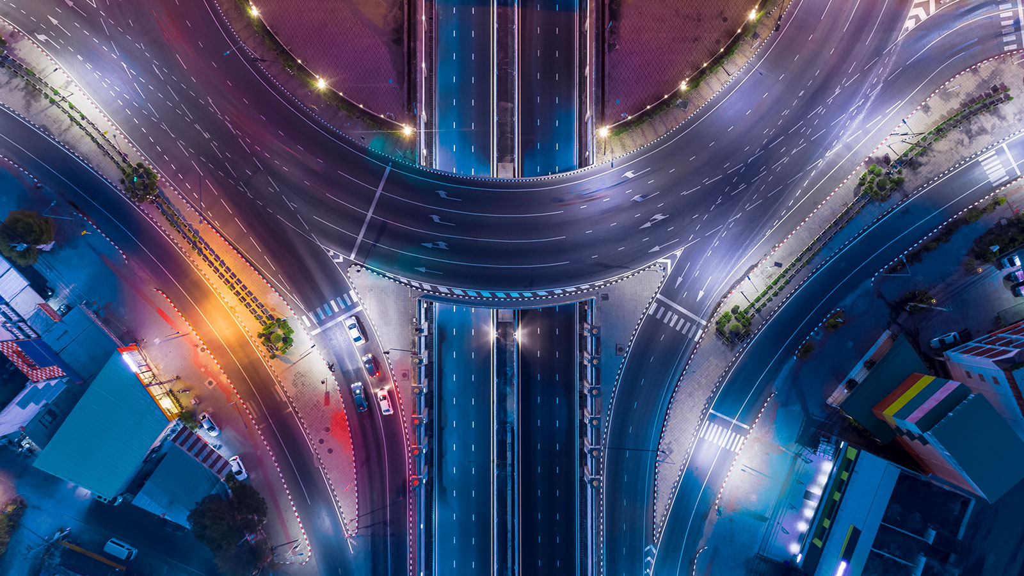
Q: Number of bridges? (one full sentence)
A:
Altogether the scene contains 1 bridge.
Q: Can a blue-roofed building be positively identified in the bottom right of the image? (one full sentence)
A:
Yes, I can see a blue-roofed building in the bottom right of the image.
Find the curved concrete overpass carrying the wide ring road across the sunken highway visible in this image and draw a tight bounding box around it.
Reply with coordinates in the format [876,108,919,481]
[421,162,591,322]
